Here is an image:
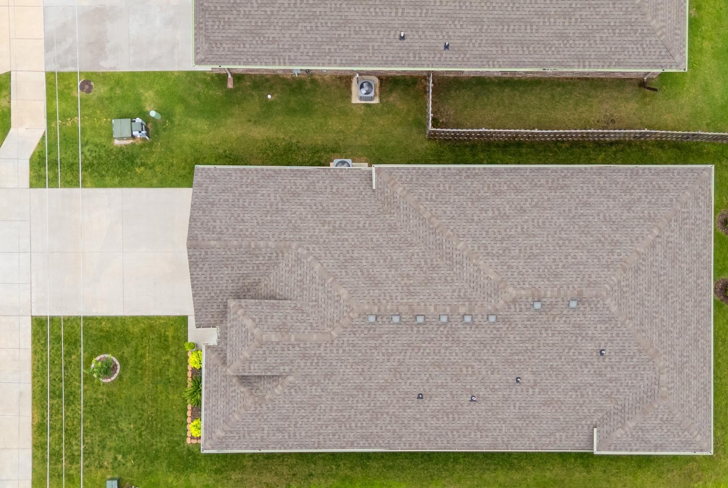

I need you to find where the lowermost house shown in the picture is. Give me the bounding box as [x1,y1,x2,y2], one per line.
[184,164,715,454]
